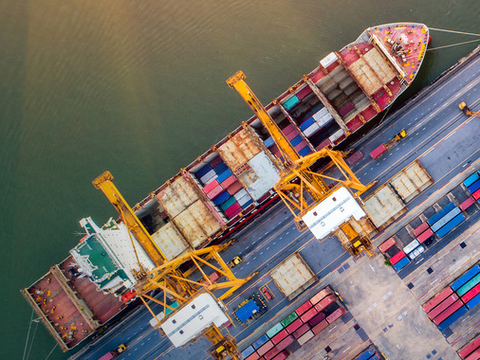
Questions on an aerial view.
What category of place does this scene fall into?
port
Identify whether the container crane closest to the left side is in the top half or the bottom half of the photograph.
bottom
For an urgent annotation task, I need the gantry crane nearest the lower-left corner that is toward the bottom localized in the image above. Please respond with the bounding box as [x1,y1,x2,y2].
[93,175,262,360]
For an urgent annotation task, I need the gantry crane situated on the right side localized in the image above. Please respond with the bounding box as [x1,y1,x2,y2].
[228,74,380,263]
